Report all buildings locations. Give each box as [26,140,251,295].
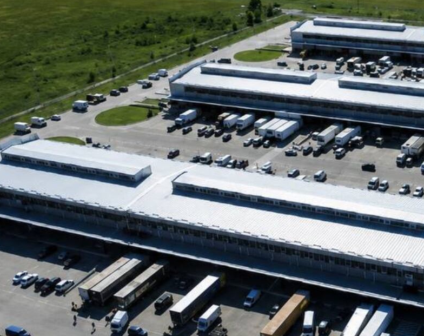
[165,57,424,140]
[0,129,424,320]
[285,15,424,65]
